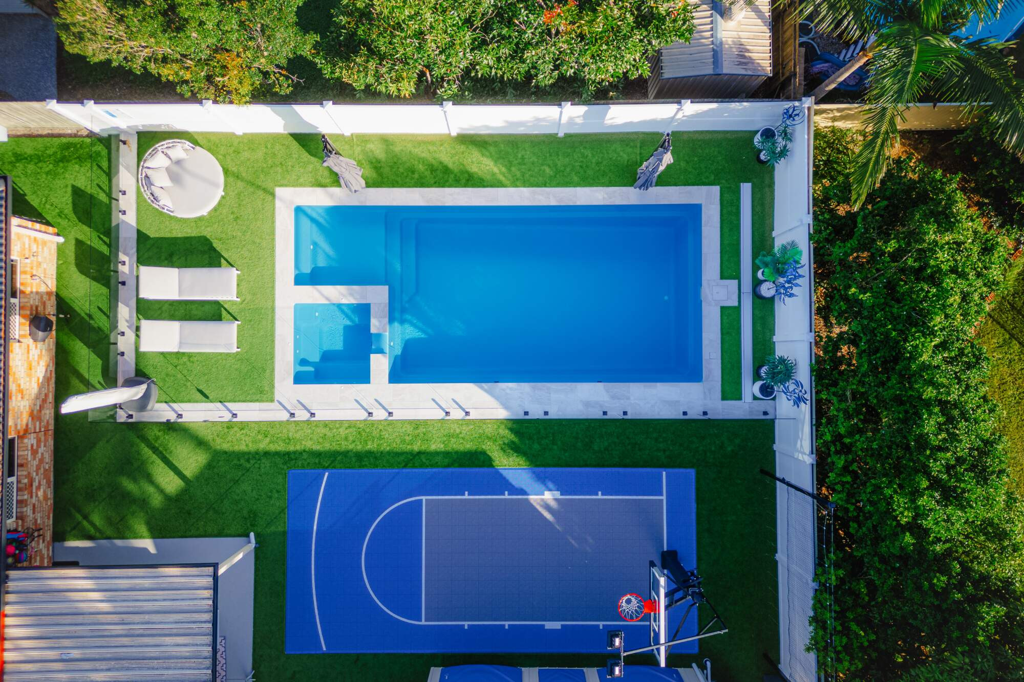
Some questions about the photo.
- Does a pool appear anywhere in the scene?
Yes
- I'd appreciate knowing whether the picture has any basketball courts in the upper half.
No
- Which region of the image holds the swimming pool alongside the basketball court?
center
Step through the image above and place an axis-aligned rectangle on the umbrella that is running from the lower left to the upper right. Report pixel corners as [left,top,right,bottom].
[632,142,668,186]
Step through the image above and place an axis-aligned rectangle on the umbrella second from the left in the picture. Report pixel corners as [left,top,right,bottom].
[322,143,362,188]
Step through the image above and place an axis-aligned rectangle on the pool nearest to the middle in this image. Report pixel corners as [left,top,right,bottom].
[116,133,776,420]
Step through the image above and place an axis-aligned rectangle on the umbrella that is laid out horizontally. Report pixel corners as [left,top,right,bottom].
[62,378,158,412]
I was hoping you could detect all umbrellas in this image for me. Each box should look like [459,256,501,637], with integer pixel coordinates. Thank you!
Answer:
[322,143,362,188]
[62,378,158,412]
[632,142,668,186]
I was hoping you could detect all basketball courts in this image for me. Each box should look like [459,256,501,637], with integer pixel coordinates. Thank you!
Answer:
[284,469,699,654]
